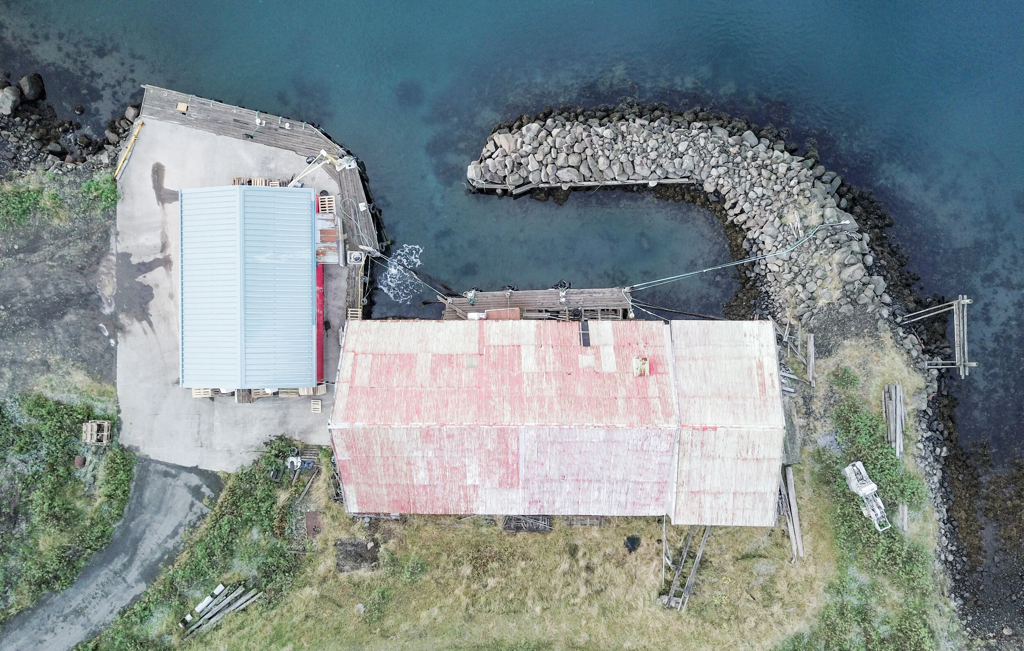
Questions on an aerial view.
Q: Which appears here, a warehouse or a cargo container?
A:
warehouse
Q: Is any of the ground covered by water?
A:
Yes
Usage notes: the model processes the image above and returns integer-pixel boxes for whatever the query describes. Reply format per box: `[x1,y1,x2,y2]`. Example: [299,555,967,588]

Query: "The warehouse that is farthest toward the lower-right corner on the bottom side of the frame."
[328,307,804,527]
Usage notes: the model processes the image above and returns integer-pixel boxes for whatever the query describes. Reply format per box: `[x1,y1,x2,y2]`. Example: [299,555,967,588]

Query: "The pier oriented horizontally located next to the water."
[436,285,647,321]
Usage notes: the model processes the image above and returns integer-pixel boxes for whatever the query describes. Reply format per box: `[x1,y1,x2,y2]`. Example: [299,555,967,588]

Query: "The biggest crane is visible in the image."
[286,146,342,187]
